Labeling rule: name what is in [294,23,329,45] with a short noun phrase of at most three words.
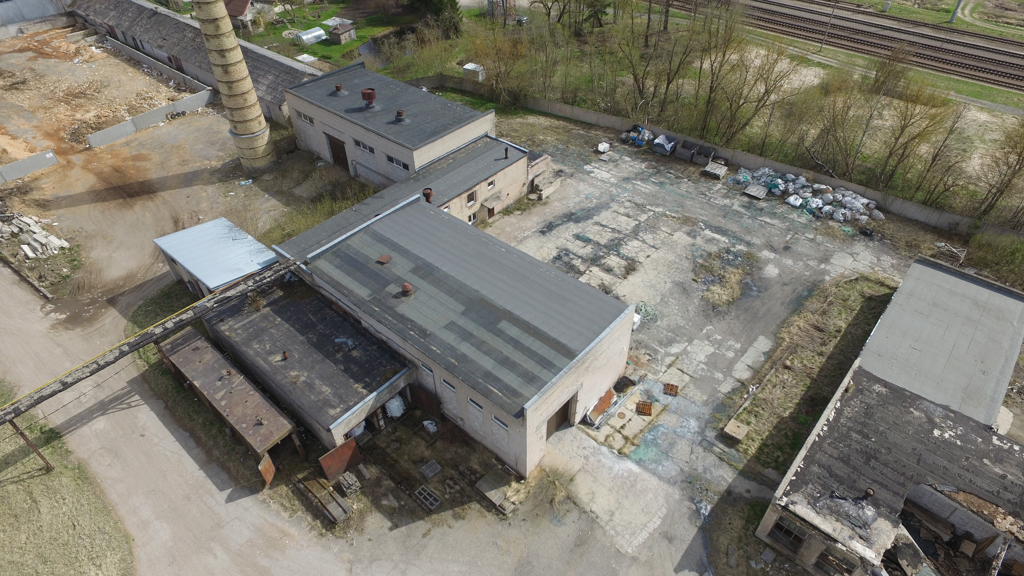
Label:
greenhouse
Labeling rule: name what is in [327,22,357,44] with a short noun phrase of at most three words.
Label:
shed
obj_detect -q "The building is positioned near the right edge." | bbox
[754,252,1024,576]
